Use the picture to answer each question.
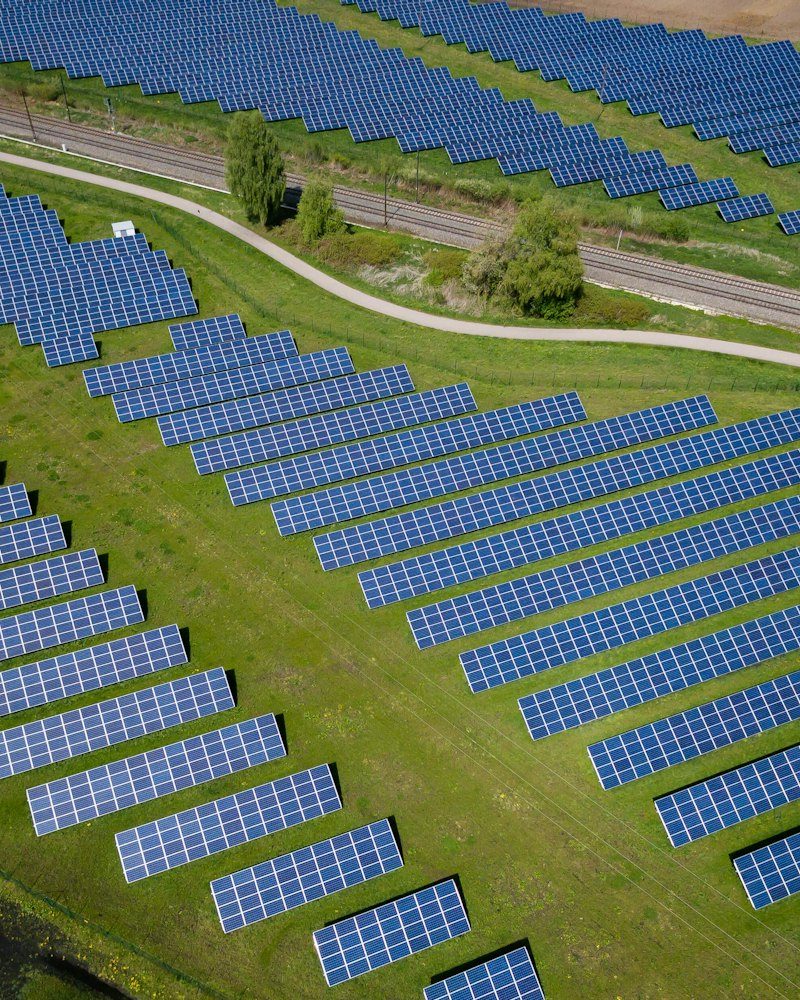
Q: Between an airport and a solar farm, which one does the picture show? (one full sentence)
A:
This image shows a solar farm.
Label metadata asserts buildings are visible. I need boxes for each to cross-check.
[110,220,134,238]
